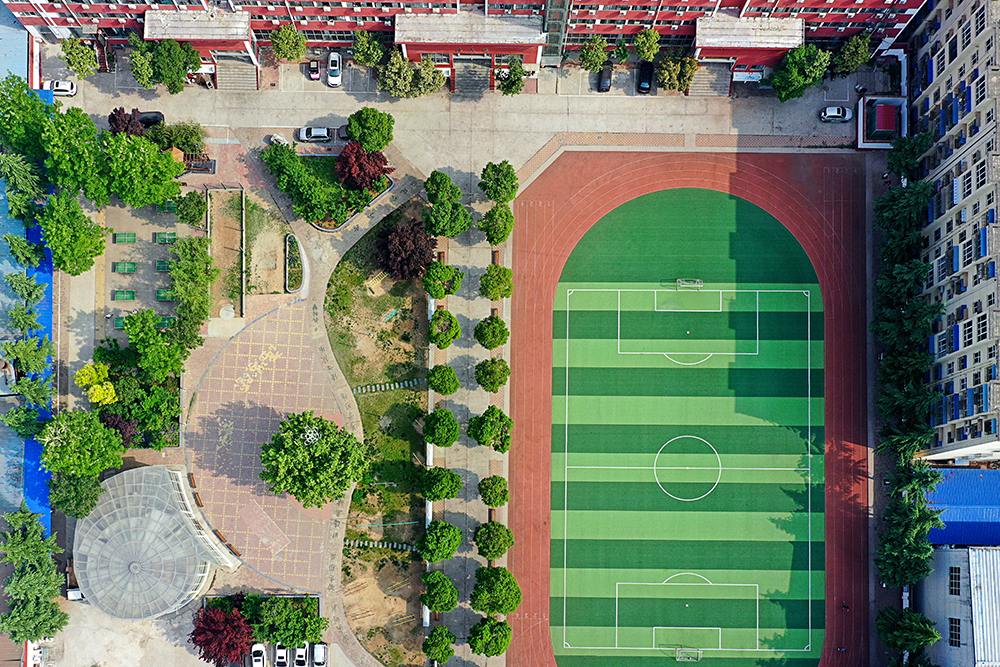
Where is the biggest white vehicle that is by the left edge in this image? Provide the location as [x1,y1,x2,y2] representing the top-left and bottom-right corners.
[43,79,77,97]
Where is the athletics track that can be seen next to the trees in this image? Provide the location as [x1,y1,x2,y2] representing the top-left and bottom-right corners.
[506,151,868,667]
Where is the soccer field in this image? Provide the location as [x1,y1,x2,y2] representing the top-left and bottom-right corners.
[551,188,825,667]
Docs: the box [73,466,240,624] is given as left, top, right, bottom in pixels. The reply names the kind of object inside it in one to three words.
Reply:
building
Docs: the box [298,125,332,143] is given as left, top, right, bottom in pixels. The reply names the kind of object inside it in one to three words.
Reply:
car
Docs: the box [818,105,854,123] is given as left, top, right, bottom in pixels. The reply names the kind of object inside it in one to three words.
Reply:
car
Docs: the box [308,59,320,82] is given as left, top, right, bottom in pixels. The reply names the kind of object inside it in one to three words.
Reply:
vehicle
